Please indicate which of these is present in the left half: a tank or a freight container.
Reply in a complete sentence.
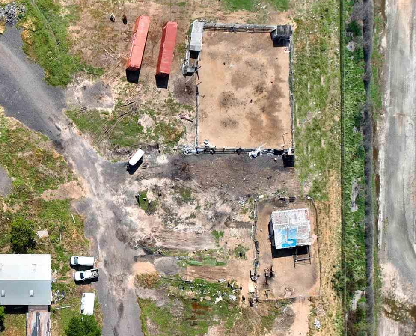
There is a freight container in the left half.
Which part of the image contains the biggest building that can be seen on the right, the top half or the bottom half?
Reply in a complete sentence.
Seen from above, the biggest building that can be seen on the right lies in the bottom half of the view.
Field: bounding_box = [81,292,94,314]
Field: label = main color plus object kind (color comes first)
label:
white vehicle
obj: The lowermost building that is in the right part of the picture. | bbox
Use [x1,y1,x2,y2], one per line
[267,209,313,248]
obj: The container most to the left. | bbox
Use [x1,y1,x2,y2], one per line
[124,15,152,74]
